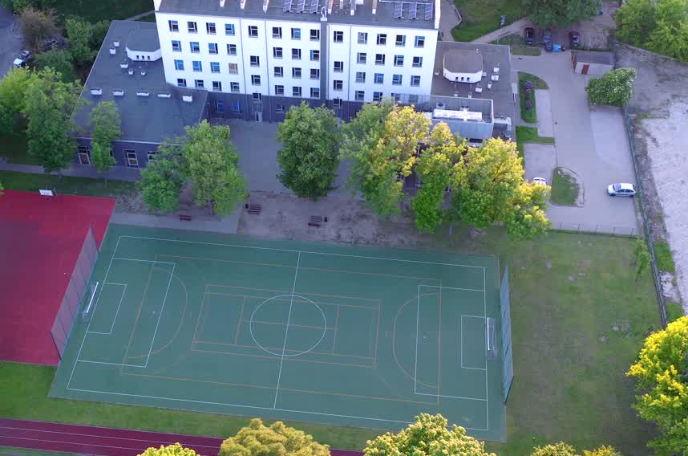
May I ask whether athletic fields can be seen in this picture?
Yes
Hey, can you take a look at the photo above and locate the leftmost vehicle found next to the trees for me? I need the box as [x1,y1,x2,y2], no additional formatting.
[12,46,36,62]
